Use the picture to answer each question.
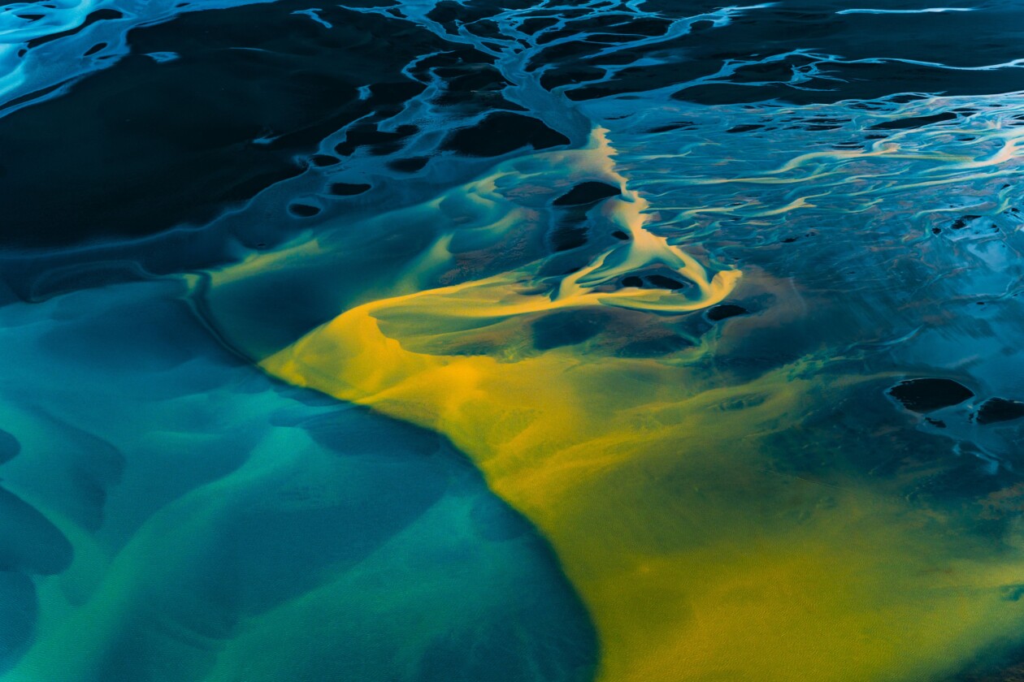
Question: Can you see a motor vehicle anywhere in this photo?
No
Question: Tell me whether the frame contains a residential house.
No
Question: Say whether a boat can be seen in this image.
No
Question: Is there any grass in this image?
No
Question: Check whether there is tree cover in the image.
No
